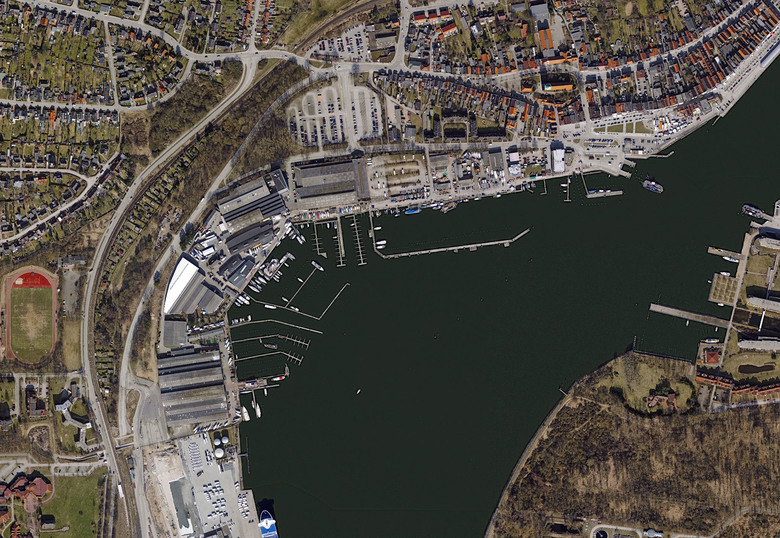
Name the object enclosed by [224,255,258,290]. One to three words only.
building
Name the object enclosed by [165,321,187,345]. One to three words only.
building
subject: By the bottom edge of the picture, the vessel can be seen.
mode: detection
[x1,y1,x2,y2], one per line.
[259,511,280,538]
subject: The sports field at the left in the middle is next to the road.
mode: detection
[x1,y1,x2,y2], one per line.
[11,287,52,363]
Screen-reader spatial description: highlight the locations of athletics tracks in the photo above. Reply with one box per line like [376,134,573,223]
[6,267,56,367]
